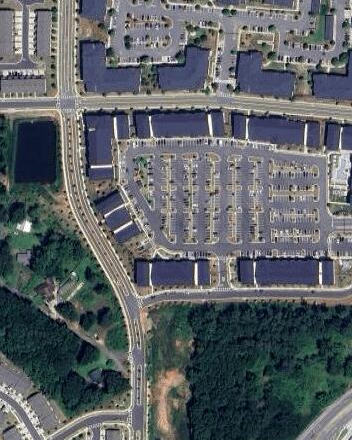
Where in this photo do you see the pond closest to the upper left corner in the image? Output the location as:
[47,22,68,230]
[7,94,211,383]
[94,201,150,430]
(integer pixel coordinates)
[16,121,59,183]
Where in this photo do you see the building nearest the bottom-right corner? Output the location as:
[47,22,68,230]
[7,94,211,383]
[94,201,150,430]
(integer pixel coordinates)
[242,260,334,286]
